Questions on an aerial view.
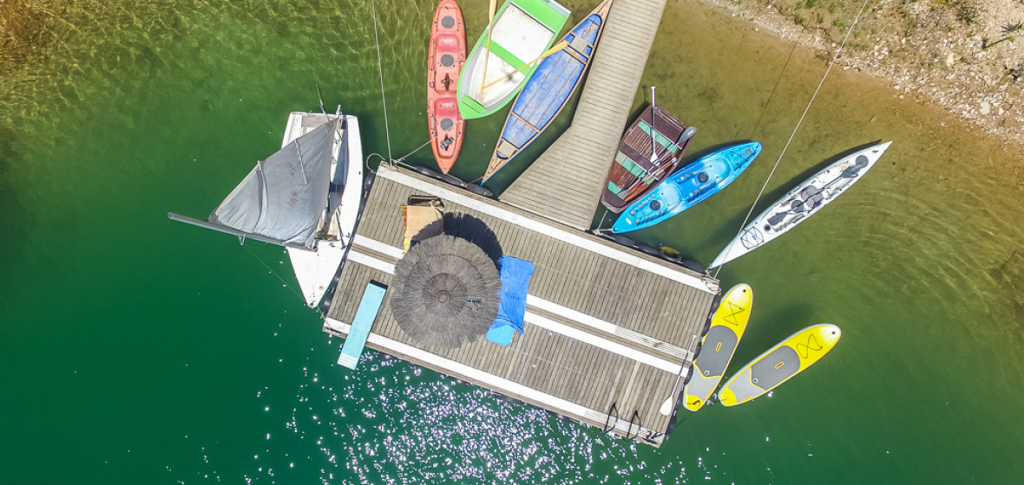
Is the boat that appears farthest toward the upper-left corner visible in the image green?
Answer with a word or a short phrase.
No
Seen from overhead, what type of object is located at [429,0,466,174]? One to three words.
boat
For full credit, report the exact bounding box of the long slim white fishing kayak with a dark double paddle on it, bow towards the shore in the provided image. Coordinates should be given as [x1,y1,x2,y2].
[708,140,894,267]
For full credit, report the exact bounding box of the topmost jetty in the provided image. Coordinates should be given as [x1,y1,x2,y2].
[500,0,668,228]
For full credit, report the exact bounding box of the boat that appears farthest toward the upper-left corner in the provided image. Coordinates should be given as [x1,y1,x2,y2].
[167,84,361,308]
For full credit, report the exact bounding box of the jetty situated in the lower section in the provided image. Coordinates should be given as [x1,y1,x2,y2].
[323,163,718,450]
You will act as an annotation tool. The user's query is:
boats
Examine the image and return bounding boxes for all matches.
[611,141,763,233]
[481,0,612,185]
[167,84,361,308]
[708,140,894,267]
[429,0,466,174]
[603,102,689,213]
